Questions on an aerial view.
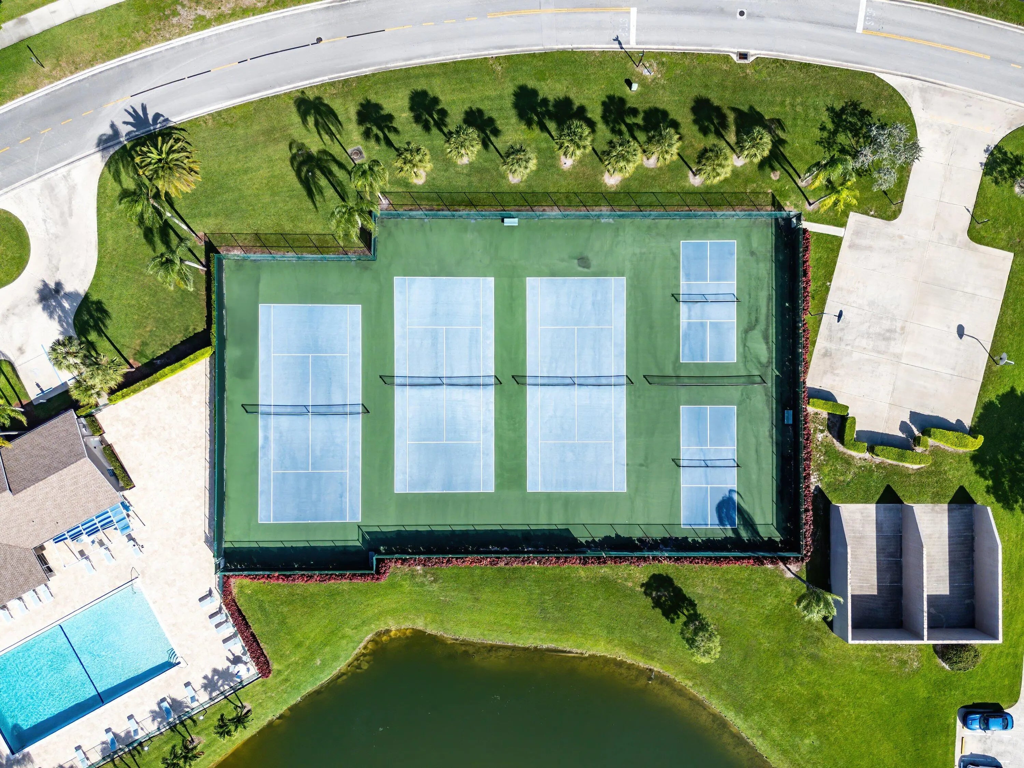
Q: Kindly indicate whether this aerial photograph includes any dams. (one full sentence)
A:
No, there is no dam in the image.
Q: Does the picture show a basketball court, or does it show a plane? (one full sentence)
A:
The image shows a basketball court.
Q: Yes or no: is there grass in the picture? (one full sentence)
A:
Yes, some grass is visible.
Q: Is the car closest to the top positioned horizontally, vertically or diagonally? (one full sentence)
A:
Seen from above, the car closest to the top lies horizontally.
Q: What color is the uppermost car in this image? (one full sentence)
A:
The color of the uppermost car is blue.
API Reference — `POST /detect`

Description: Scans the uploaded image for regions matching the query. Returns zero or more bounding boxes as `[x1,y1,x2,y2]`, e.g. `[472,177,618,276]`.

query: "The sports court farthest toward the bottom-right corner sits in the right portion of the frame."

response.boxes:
[831,504,1001,643]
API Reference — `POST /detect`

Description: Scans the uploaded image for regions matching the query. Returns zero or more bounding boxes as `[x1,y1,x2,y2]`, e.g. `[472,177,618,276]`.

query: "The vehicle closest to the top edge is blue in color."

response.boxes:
[964,710,1014,733]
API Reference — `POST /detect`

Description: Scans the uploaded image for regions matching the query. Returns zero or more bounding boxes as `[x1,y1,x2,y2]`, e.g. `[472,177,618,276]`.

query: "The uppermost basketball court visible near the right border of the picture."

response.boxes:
[811,213,1013,451]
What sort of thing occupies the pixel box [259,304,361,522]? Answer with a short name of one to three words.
tennis court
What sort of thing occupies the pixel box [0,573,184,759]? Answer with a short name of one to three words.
swimming pool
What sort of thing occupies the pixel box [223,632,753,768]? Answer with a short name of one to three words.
pond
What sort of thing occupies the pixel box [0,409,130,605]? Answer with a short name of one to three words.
building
